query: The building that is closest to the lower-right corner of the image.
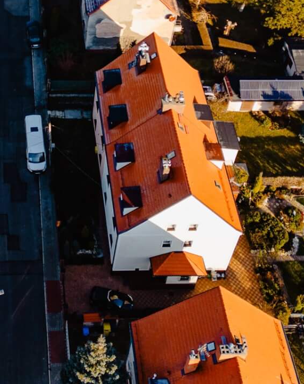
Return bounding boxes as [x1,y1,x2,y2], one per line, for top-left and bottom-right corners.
[128,285,300,384]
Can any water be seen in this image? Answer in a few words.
No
